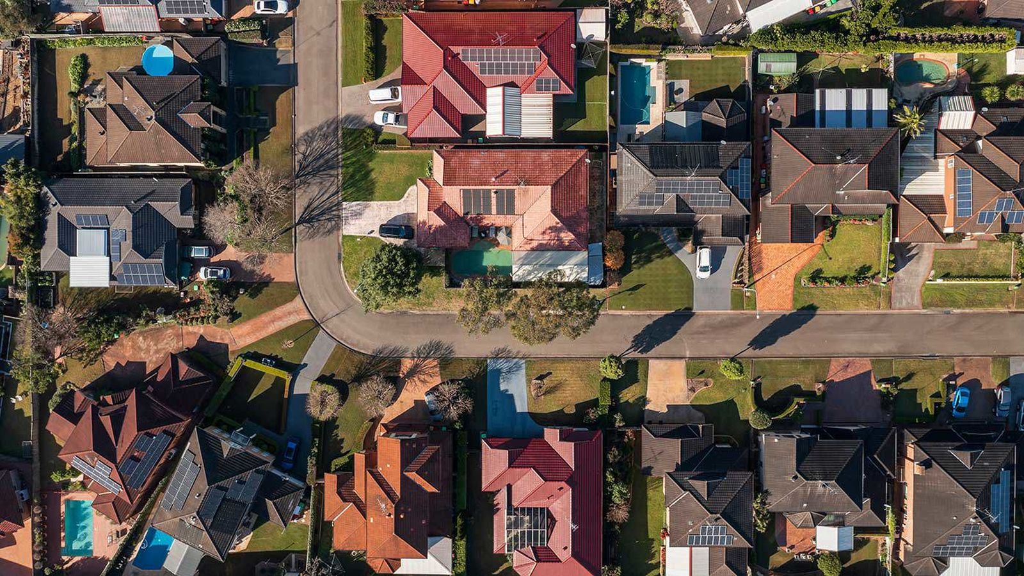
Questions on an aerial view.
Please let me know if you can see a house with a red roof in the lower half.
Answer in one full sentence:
Yes, a house with a red roof shows up in the lower half.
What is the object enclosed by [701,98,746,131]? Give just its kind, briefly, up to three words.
gazebo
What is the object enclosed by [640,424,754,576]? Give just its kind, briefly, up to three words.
house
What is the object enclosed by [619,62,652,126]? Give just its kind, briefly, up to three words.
swimming pool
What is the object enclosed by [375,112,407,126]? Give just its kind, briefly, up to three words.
vehicle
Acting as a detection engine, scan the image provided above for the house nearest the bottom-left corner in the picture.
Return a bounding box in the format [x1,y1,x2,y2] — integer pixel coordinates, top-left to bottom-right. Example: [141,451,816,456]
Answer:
[0,464,29,533]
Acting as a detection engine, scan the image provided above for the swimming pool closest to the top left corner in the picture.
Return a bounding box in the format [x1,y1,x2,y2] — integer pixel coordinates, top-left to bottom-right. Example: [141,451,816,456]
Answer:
[142,44,173,75]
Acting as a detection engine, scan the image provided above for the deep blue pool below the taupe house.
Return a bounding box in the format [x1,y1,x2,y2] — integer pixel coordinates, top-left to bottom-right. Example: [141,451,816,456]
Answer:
[130,526,175,572]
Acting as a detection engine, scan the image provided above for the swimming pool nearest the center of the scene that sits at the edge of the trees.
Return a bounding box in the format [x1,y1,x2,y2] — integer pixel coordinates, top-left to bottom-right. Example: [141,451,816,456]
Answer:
[449,247,516,277]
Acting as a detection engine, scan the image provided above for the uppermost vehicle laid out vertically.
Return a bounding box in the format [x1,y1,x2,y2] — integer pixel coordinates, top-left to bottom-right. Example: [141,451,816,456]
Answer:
[697,246,712,279]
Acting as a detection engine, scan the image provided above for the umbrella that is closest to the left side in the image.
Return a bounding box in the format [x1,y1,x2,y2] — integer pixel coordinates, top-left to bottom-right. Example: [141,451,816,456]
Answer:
[496,228,512,244]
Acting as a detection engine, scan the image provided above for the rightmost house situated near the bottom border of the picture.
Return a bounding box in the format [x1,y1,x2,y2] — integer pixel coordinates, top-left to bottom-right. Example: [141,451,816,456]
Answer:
[900,424,1024,576]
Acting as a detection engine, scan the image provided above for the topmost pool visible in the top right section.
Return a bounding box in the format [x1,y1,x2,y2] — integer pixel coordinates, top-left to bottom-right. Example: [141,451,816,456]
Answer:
[894,54,951,87]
